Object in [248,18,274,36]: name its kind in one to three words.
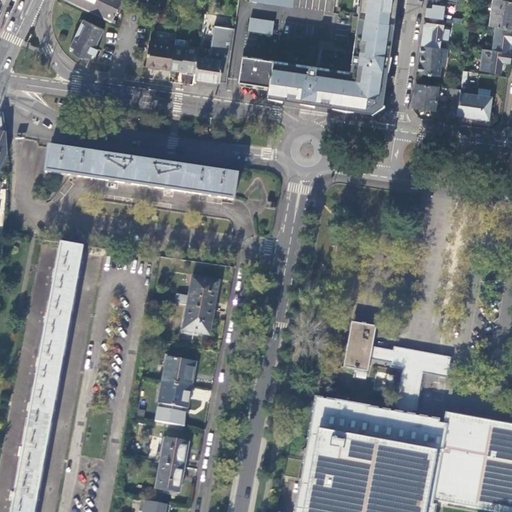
building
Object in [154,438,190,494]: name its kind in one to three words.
house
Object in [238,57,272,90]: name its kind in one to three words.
building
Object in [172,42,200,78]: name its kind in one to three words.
house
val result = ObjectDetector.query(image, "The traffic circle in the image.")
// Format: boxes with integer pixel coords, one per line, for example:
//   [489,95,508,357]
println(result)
[276,119,334,181]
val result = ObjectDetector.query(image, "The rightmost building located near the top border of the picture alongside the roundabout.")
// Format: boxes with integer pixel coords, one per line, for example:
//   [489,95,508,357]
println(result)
[266,0,397,116]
